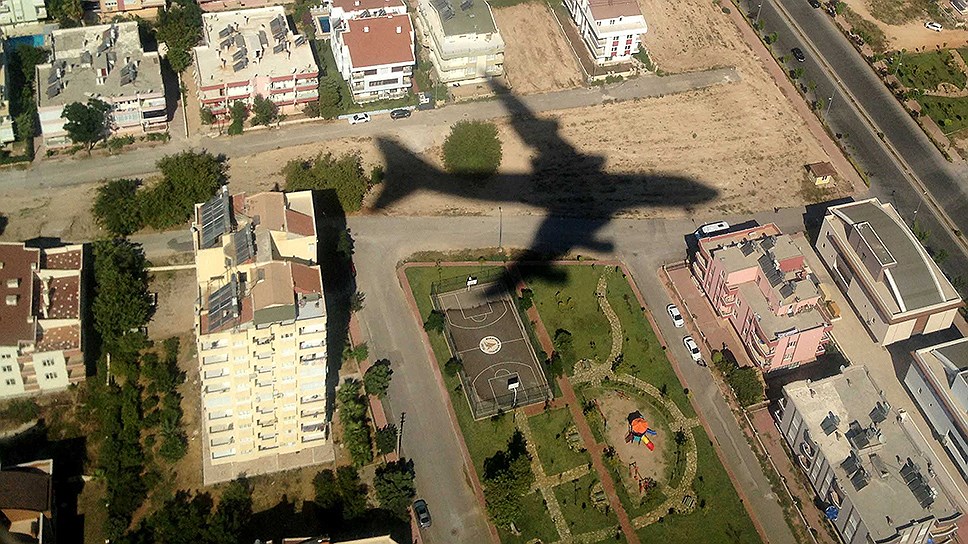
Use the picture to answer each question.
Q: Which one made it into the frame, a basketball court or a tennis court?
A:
basketball court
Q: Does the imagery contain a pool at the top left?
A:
Yes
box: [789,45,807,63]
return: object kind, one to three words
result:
car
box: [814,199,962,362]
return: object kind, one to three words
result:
building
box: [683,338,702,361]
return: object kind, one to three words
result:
car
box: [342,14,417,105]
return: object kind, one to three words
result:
house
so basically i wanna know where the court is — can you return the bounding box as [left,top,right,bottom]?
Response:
[431,264,559,417]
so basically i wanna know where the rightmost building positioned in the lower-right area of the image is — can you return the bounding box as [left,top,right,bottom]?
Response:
[899,336,968,506]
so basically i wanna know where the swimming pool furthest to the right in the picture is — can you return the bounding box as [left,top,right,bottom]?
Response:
[313,9,336,38]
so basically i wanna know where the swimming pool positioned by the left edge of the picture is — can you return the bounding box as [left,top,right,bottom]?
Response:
[4,25,61,57]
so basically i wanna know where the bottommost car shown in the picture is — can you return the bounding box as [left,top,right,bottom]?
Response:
[415,500,432,526]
